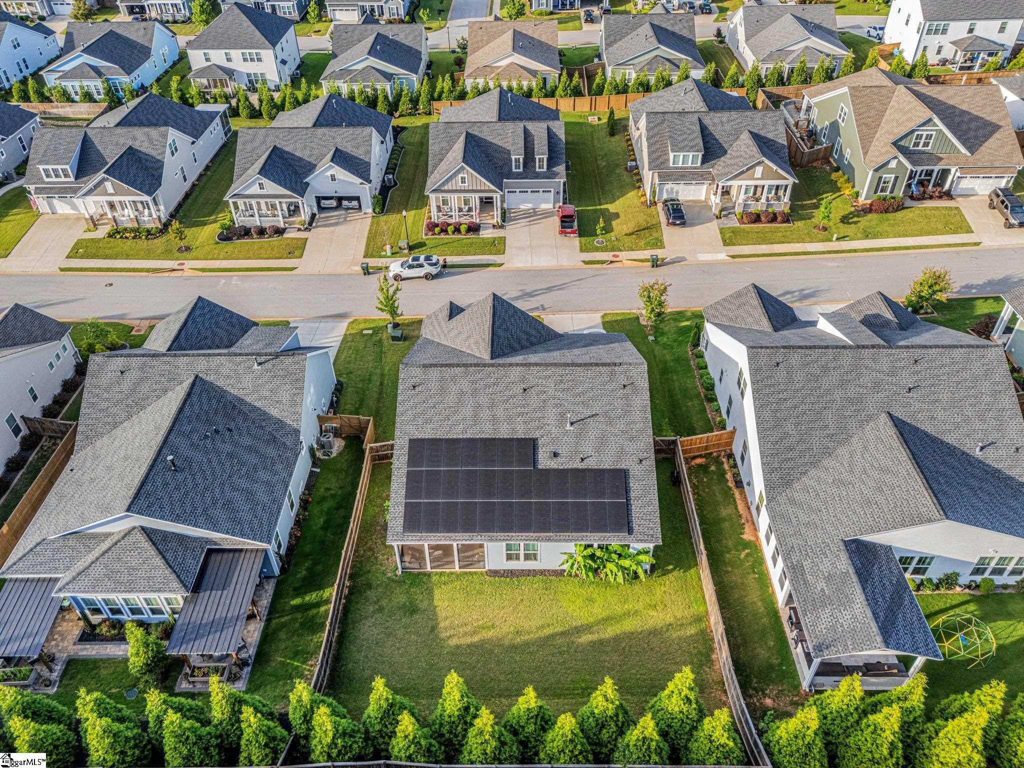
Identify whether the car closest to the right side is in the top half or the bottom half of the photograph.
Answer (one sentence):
The car closest to the right side is in the top half of the image.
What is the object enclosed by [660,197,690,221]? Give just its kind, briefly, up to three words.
car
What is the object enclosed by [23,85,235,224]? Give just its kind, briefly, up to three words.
house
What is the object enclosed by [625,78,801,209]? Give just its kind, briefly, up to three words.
house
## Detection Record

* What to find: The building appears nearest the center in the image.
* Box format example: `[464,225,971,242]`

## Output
[387,291,662,577]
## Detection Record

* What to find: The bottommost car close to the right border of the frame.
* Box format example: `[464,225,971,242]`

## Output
[987,183,1024,216]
